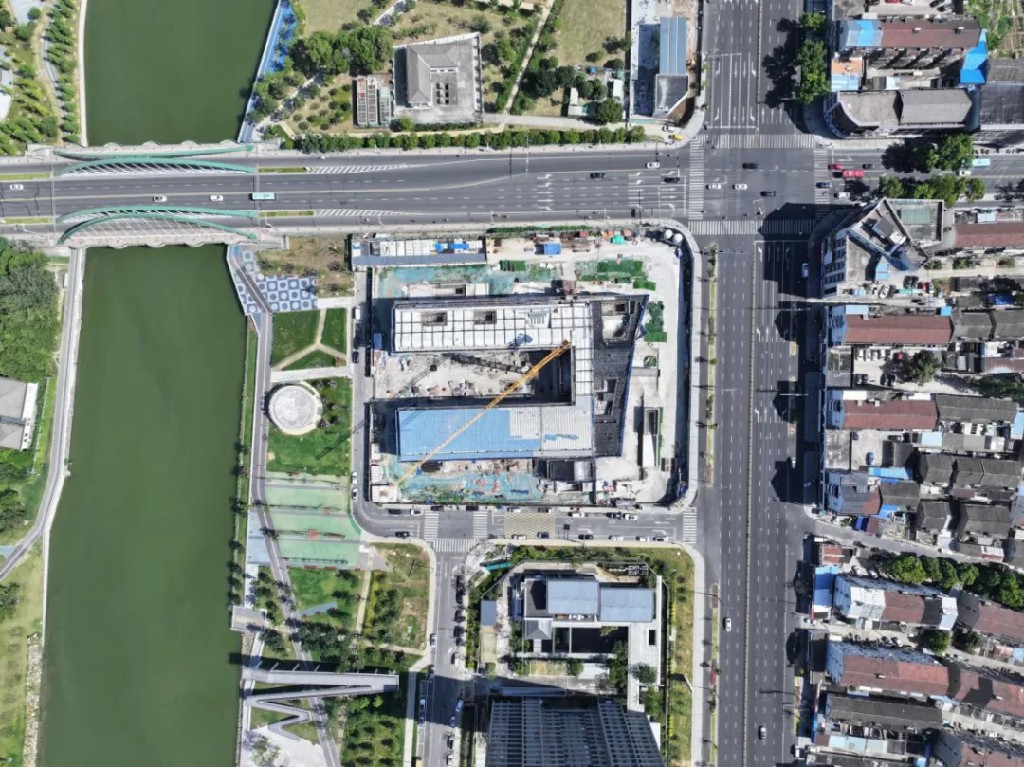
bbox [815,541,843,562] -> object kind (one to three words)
shed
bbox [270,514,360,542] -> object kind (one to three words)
sports court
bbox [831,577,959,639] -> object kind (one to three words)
house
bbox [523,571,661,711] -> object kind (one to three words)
building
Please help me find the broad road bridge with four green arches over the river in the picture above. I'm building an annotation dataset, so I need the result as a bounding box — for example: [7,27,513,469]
[50,141,259,253]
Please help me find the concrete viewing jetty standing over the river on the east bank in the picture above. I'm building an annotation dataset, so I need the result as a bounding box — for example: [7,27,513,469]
[228,606,267,633]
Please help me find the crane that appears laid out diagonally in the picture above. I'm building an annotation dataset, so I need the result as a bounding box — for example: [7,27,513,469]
[394,341,572,486]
